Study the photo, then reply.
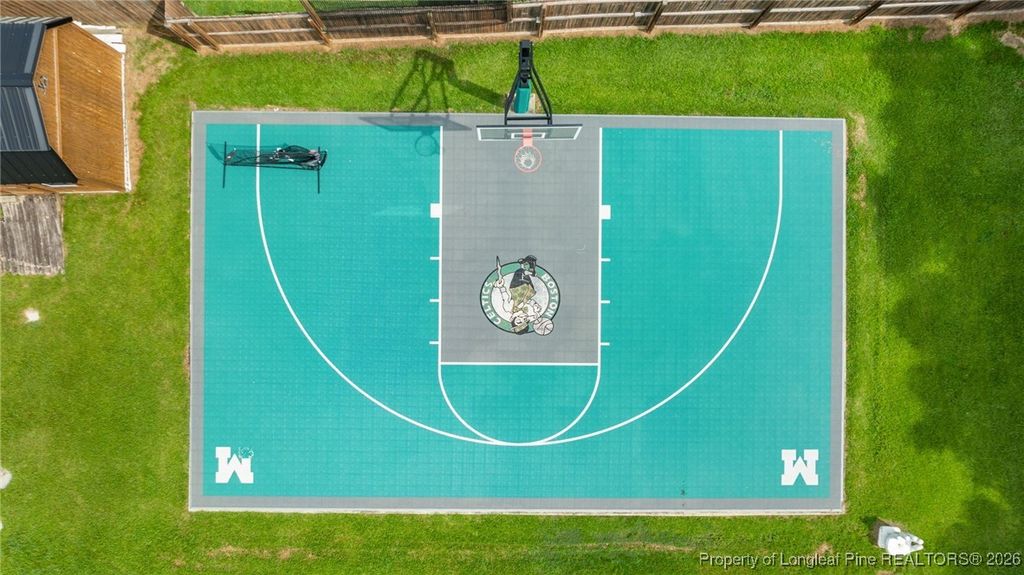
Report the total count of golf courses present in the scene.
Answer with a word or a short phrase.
none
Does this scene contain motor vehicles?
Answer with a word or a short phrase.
No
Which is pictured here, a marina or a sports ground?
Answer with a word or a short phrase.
sports ground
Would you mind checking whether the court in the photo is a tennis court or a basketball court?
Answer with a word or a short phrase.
basketball court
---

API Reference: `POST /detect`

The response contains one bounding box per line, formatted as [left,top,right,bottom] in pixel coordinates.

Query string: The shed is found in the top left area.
[0,17,128,194]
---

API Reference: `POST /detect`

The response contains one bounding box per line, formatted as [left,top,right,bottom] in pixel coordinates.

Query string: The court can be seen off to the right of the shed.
[187,110,847,514]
